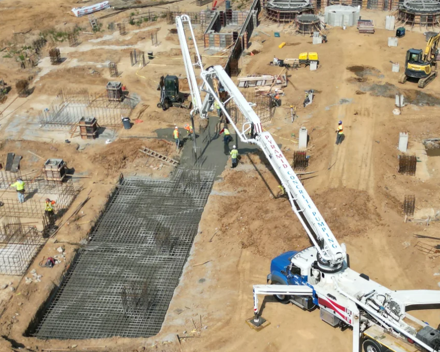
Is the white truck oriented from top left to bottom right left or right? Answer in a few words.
right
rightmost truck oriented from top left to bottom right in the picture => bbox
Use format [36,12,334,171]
[176,8,440,352]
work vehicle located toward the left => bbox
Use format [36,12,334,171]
[159,77,186,109]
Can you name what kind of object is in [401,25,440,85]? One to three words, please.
work vehicle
